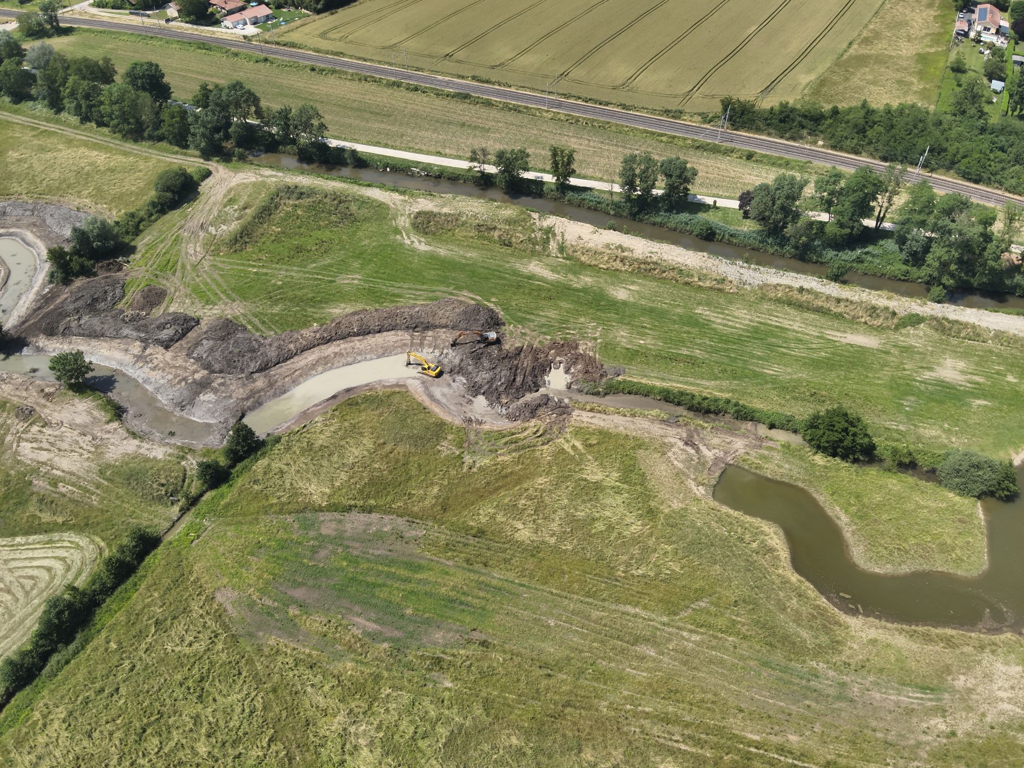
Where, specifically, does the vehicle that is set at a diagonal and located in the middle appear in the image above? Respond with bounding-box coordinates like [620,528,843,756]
[405,347,441,379]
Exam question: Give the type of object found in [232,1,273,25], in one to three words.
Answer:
house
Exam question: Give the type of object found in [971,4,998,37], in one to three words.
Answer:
house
